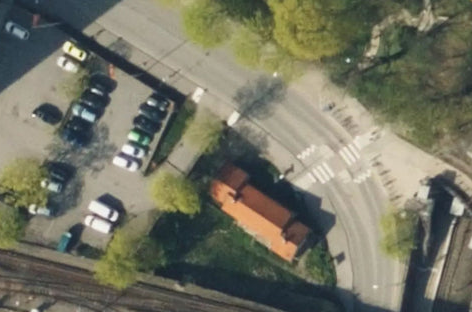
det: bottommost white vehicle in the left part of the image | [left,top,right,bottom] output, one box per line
[83,215,111,235]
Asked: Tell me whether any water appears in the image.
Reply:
No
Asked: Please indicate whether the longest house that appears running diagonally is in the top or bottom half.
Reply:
bottom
